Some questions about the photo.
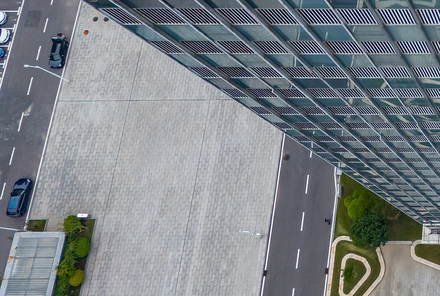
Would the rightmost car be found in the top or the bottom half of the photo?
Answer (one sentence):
The rightmost car is in the top half of the image.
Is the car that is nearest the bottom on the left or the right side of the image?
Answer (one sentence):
You can find the car that is nearest the bottom on the left side of the picture.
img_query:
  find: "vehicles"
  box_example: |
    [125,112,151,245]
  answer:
[6,179,34,219]
[47,29,71,71]
[0,47,8,61]
[0,28,13,43]
[0,12,10,25]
